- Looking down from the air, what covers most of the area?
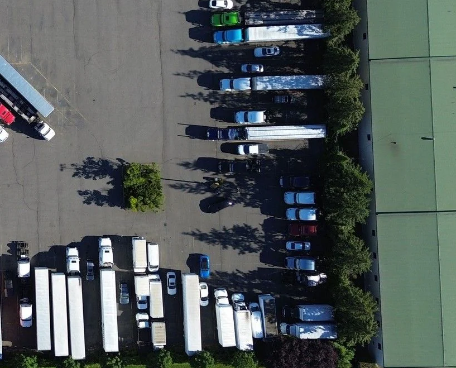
paved ground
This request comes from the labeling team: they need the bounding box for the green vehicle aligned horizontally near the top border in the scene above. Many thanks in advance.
[209,10,251,27]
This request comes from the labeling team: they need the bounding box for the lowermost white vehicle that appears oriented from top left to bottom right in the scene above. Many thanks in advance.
[21,111,54,143]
